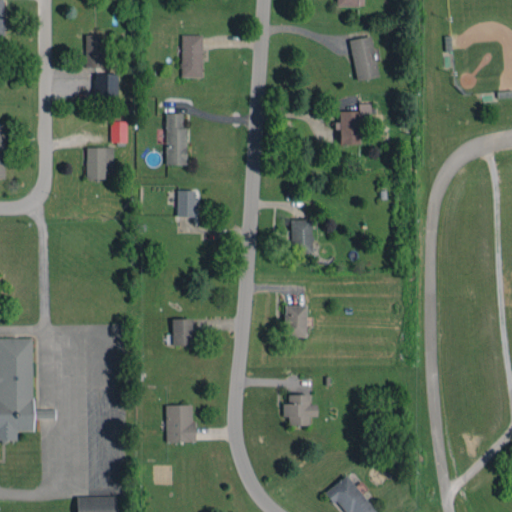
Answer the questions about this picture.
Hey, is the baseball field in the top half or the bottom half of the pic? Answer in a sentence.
Seen from above, the baseball field lies in the top half of the view.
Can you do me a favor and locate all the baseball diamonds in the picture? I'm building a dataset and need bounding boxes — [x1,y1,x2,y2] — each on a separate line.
[452,0,512,94]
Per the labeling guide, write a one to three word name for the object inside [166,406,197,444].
house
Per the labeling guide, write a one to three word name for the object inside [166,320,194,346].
house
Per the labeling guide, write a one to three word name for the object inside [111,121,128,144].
shed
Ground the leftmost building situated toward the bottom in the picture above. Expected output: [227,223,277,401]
[0,339,58,444]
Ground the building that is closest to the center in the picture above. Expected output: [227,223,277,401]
[291,220,314,255]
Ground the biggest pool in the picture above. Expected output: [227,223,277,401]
[146,150,162,168]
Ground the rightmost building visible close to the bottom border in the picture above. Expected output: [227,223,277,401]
[328,480,380,512]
